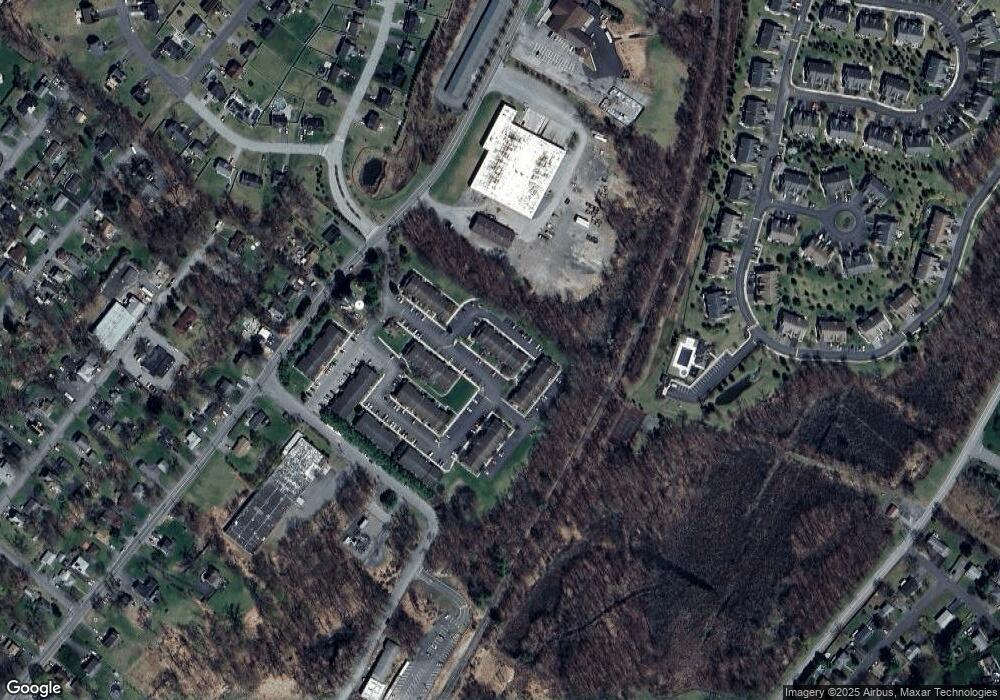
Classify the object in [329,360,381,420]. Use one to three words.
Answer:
building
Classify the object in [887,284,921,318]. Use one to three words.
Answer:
house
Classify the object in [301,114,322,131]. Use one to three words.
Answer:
house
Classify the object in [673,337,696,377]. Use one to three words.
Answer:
swimming pool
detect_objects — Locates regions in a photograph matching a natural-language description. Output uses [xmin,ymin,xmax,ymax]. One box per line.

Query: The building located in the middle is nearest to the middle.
[471,321,530,375]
